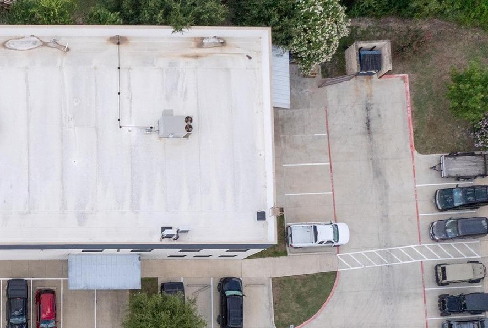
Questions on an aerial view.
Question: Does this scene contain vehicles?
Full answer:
Yes, there is a vehicle in the image.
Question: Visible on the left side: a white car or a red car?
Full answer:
Looking on the left side, you will find a red car.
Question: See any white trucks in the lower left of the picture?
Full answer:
No, looking in the lower left of the picture, there is no white truck.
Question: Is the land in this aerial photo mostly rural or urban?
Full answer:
It looks urban.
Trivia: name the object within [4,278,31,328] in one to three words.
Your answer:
truck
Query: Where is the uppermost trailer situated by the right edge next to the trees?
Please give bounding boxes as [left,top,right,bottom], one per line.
[425,149,488,183]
